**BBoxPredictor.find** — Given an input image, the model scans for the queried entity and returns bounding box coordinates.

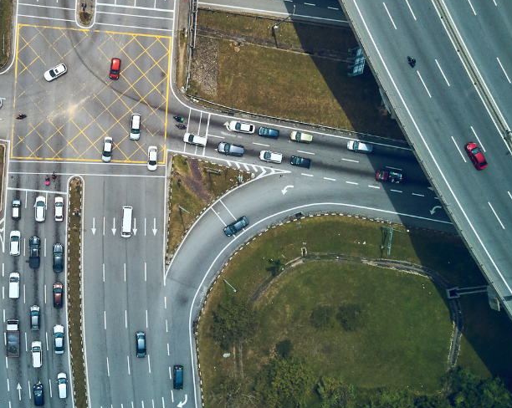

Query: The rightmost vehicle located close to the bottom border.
[172,364,185,389]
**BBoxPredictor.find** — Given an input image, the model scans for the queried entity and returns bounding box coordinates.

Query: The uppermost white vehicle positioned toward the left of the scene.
[44,63,68,82]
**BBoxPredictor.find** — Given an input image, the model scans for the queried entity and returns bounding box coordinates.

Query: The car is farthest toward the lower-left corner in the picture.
[32,382,45,407]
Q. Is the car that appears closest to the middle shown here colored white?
No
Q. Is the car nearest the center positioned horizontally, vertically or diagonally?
diagonally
